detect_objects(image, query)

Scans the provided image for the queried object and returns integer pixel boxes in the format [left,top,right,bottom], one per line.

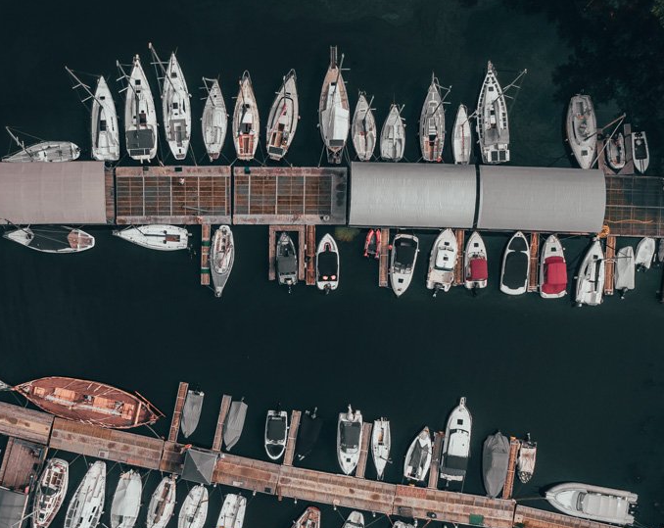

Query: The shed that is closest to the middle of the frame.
[348,161,476,232]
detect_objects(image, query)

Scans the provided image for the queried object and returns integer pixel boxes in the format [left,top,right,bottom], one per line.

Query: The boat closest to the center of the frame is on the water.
[316,234,339,297]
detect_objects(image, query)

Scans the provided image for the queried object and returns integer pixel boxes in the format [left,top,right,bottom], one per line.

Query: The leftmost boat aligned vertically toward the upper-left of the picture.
[64,64,126,171]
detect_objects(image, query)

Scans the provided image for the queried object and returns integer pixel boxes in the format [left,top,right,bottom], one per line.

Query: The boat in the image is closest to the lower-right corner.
[518,486,648,528]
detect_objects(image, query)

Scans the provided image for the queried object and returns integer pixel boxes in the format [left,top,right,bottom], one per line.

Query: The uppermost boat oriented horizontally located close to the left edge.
[0,127,84,161]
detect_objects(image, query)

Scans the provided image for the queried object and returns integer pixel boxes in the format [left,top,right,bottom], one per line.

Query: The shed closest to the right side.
[472,165,607,236]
